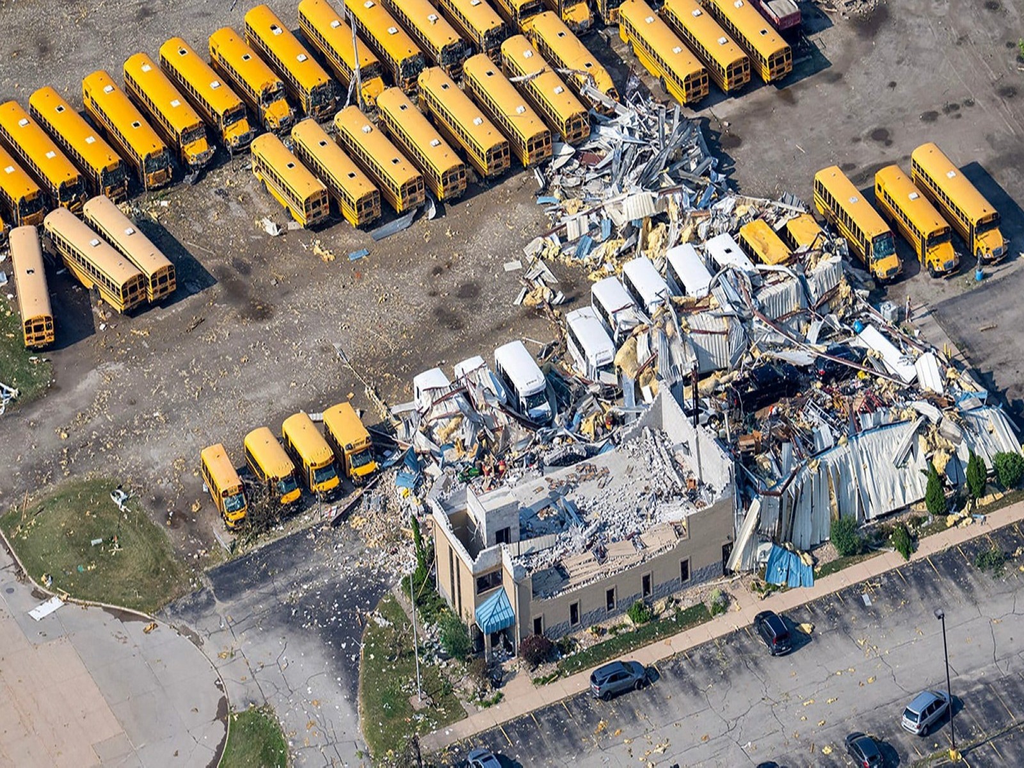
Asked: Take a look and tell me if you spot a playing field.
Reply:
No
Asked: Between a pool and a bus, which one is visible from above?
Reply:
bus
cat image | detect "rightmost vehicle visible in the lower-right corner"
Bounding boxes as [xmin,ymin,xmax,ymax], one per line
[892,689,957,739]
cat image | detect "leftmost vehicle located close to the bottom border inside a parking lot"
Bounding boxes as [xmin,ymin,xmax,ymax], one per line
[463,740,503,768]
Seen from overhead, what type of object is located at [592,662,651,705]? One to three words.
car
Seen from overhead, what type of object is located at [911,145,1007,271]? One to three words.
bus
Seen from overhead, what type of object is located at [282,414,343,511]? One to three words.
bus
